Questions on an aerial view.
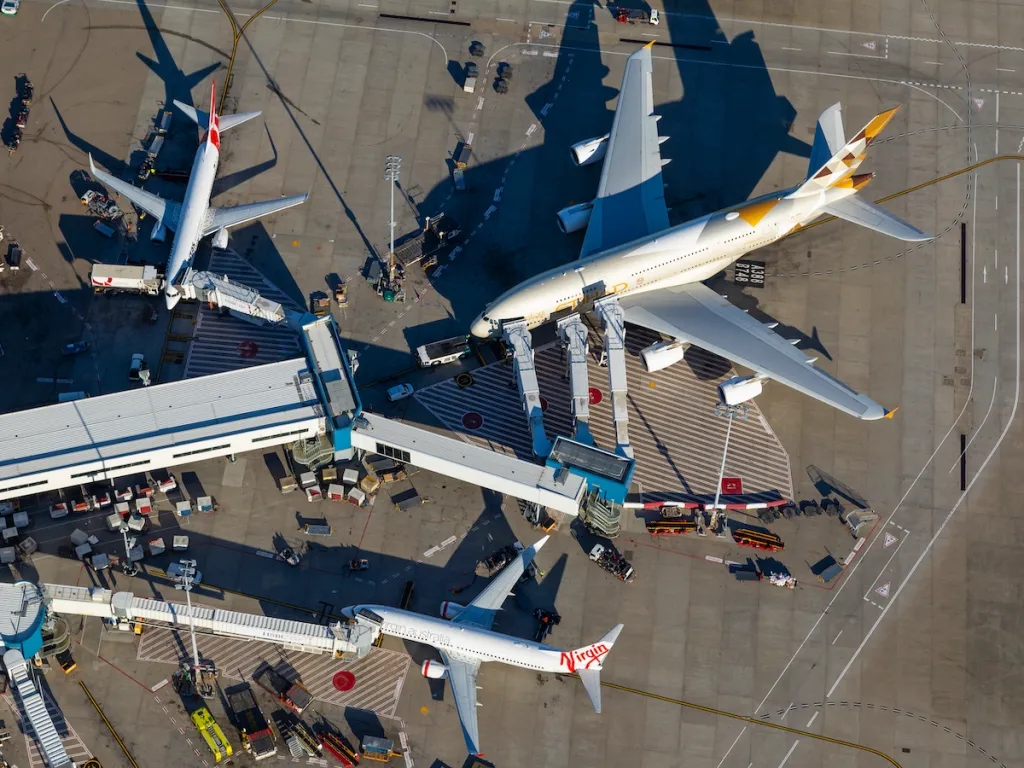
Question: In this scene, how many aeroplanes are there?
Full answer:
The count of aeroplanes comes to 3.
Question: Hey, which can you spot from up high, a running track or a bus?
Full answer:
It is a bus that can be seen here.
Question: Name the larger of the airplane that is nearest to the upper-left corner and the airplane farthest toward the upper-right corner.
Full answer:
The airplane farthest toward the upper-right corner takes up more space than the airplane that is nearest to the upper-left corner.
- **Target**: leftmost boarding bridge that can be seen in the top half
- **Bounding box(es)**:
[174,268,290,334]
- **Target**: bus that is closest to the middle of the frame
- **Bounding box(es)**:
[413,333,473,370]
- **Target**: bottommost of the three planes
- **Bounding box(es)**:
[342,537,625,756]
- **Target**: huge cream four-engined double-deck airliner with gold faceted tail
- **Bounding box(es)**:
[470,42,934,420]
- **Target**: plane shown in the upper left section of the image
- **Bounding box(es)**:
[89,83,311,309]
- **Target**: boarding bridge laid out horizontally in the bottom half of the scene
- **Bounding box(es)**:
[128,599,383,662]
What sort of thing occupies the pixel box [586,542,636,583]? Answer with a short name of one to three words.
truck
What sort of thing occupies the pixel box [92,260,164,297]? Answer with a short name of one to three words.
truck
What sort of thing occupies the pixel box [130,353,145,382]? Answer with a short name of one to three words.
vehicle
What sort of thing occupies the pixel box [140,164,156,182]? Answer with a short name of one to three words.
work vehicle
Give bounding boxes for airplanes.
[470,42,934,420]
[342,537,625,756]
[89,83,311,309]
